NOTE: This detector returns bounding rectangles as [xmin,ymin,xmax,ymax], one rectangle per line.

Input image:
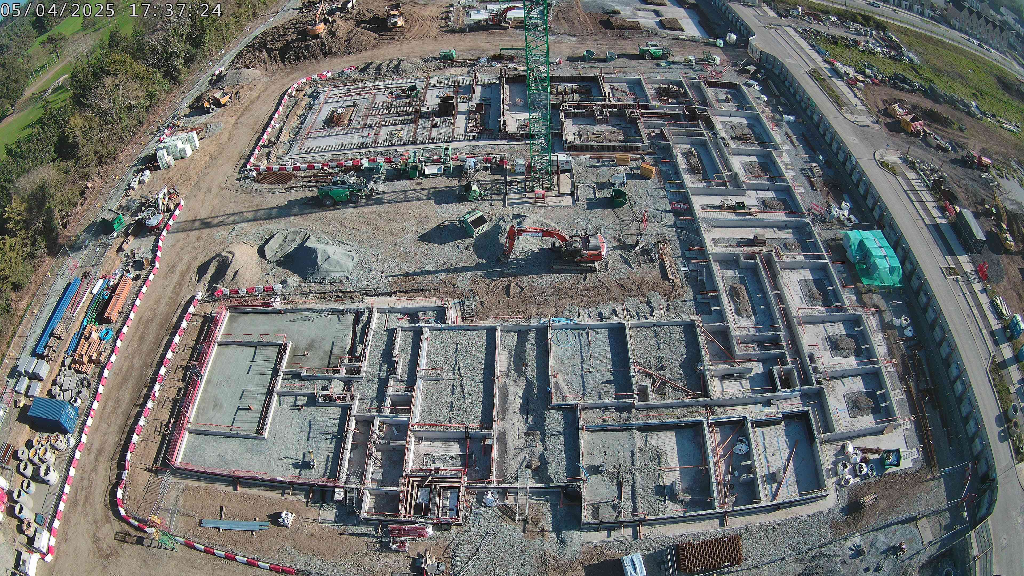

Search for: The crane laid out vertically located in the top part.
[521,0,556,199]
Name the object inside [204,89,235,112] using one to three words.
truck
